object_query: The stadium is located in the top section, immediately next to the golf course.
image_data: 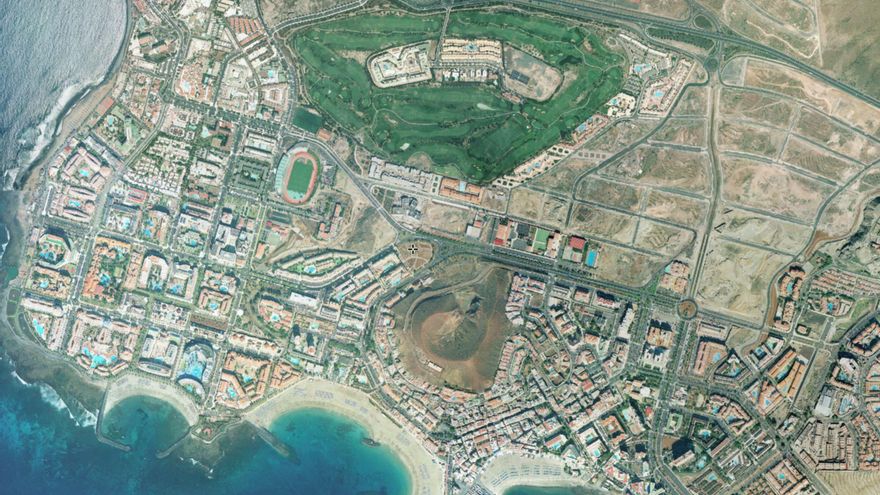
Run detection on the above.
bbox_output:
[275,142,321,207]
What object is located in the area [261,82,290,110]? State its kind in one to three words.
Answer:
building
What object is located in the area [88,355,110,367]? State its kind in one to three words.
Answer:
swimming pool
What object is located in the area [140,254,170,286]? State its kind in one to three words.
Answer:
building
